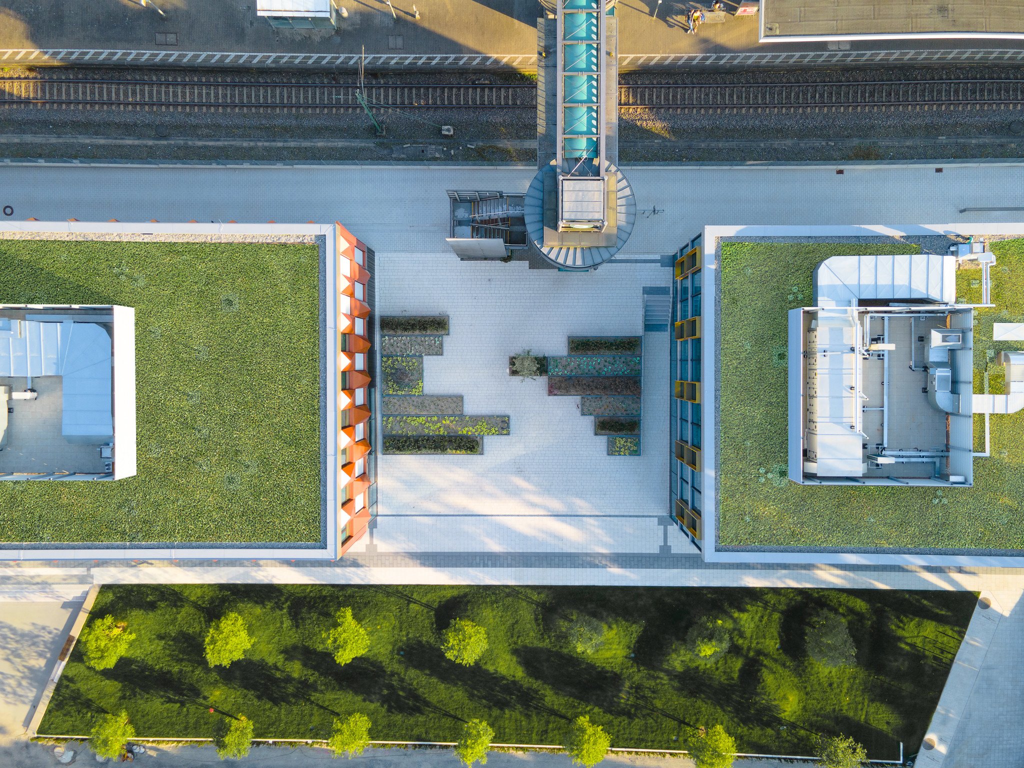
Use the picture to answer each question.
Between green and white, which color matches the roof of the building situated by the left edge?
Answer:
green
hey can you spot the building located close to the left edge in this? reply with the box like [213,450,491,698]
[0,220,378,562]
